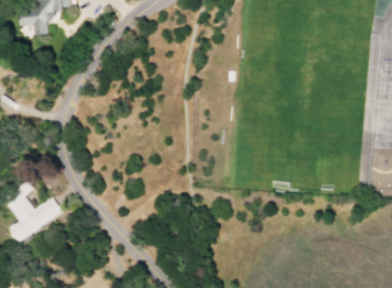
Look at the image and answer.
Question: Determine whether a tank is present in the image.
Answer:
No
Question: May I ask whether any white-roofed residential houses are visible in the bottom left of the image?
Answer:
Yes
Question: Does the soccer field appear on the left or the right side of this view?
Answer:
right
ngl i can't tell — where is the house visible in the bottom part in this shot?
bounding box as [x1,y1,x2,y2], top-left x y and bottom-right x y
[8,184,61,241]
